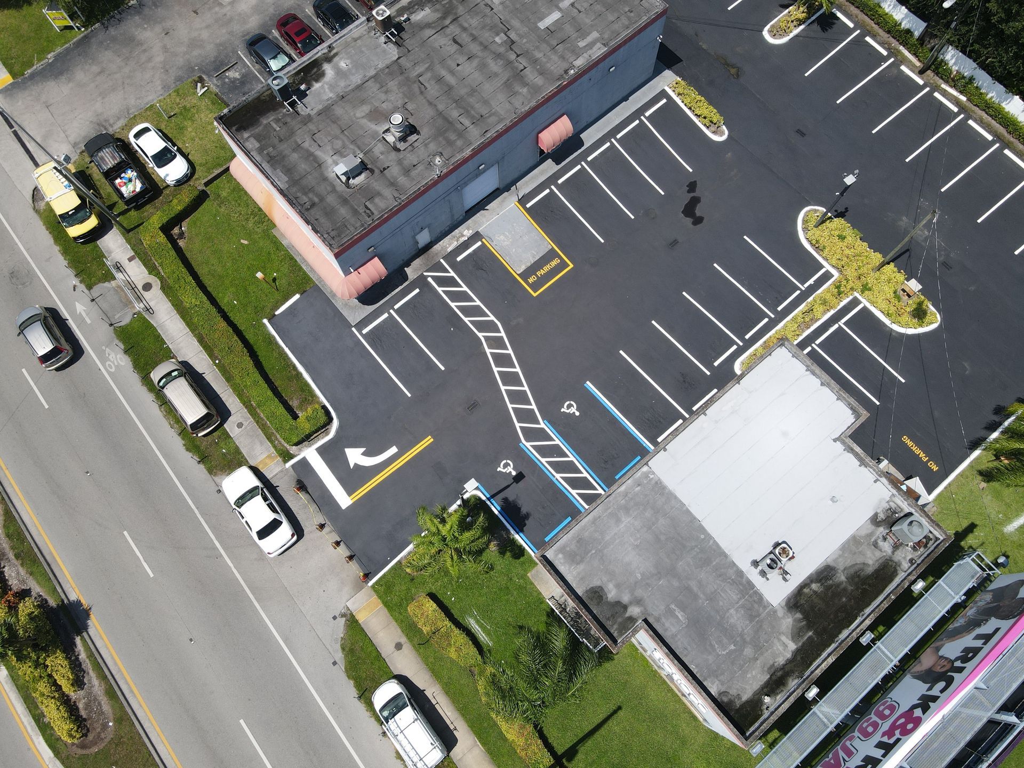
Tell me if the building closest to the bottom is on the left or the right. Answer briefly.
right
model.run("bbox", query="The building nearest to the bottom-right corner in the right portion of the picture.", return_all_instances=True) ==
[532,336,954,750]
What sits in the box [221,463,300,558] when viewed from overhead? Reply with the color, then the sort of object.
white car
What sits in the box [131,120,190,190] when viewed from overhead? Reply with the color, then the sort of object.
white car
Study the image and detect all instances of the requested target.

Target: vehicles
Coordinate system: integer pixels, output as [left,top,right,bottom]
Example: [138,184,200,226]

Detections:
[221,463,300,558]
[248,32,293,73]
[17,155,105,247]
[315,0,353,31]
[87,134,159,219]
[131,120,190,190]
[18,304,74,374]
[369,0,382,7]
[153,358,224,442]
[280,11,325,51]
[374,675,454,768]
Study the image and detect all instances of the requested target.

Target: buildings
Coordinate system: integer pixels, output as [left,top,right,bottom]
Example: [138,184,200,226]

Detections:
[532,336,954,750]
[216,0,669,300]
